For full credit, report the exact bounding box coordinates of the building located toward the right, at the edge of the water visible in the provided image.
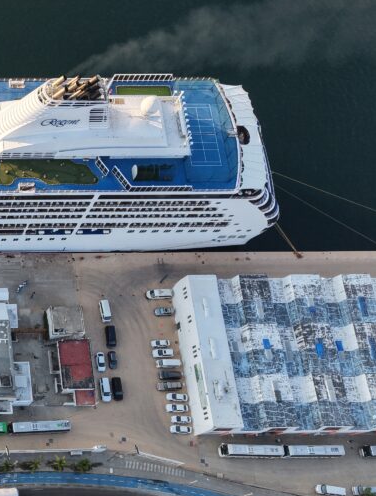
[174,274,376,437]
